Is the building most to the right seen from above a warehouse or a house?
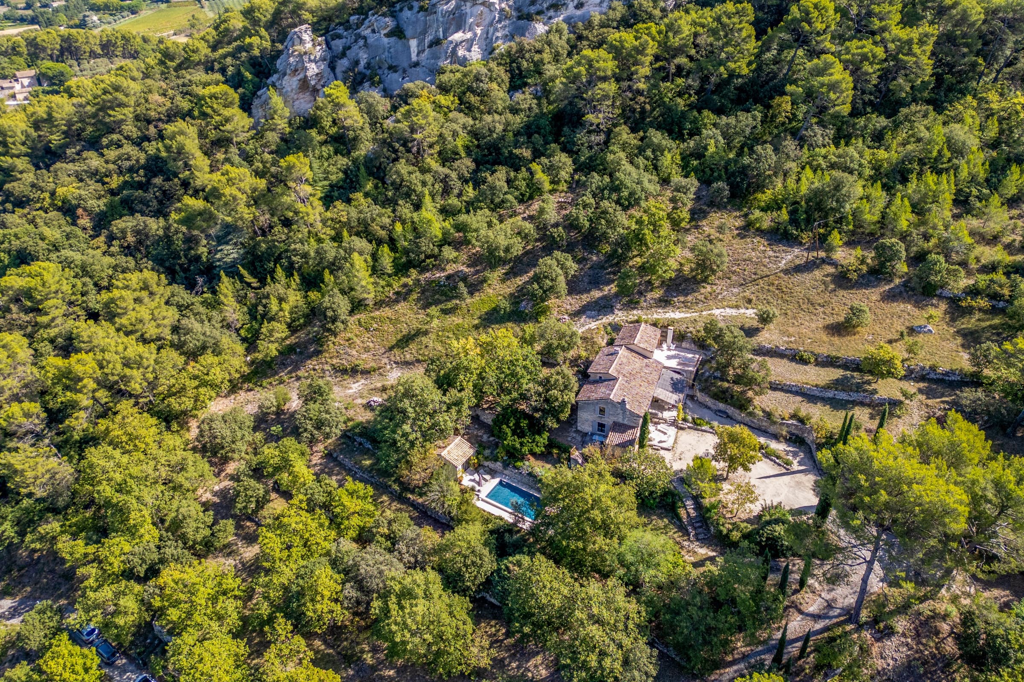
house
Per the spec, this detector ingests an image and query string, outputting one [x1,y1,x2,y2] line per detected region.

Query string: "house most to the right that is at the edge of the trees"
[575,322,705,460]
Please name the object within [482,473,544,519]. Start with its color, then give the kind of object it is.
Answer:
blue swimming pool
